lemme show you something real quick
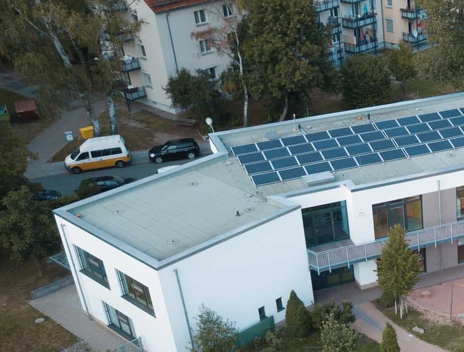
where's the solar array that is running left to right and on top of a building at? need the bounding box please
[231,105,464,187]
